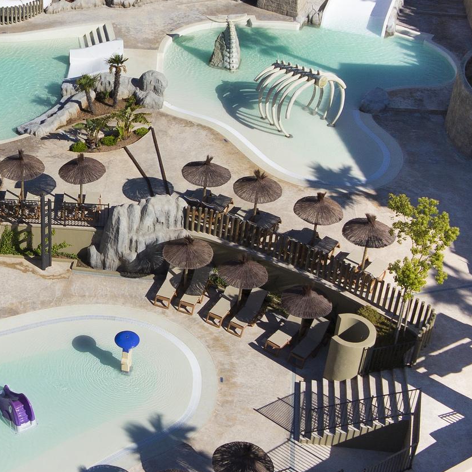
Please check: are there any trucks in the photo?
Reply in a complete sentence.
No, there isn't any truck down there.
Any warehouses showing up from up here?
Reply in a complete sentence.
No, there is no warehouse in the image.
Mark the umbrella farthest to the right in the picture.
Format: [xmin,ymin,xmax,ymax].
[344,212,398,263]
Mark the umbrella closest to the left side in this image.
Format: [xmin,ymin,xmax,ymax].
[0,145,45,202]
